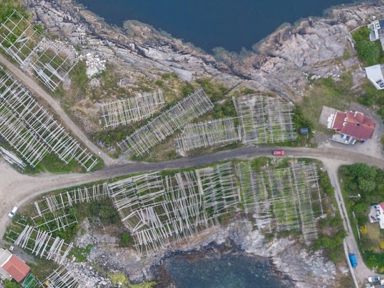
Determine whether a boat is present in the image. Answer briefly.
No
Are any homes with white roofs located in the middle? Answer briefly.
No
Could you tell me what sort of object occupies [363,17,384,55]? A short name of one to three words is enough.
house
